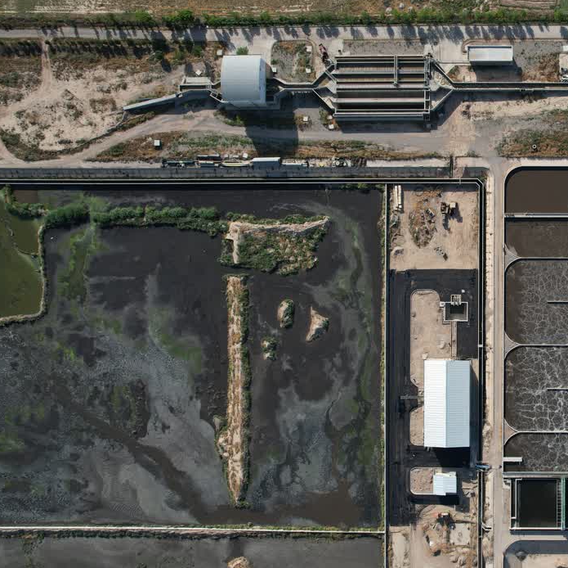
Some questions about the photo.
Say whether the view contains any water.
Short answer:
Yes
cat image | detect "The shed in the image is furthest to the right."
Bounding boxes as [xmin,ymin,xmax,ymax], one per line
[468,45,514,65]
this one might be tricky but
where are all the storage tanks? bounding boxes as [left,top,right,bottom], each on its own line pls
[334,55,431,119]
[510,476,568,532]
